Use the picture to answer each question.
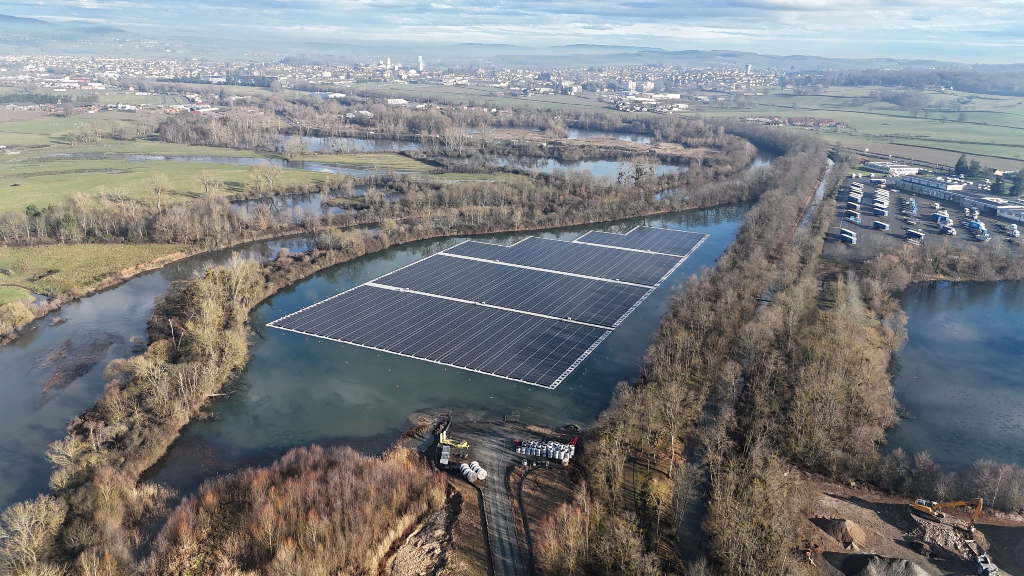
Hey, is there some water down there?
Yes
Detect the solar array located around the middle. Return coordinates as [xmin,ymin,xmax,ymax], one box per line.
[267,226,710,389]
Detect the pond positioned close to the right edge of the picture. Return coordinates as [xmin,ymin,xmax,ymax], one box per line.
[882,279,1024,494]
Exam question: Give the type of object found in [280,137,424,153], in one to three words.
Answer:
pond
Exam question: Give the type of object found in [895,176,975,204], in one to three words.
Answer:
building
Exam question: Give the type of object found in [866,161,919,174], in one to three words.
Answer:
building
